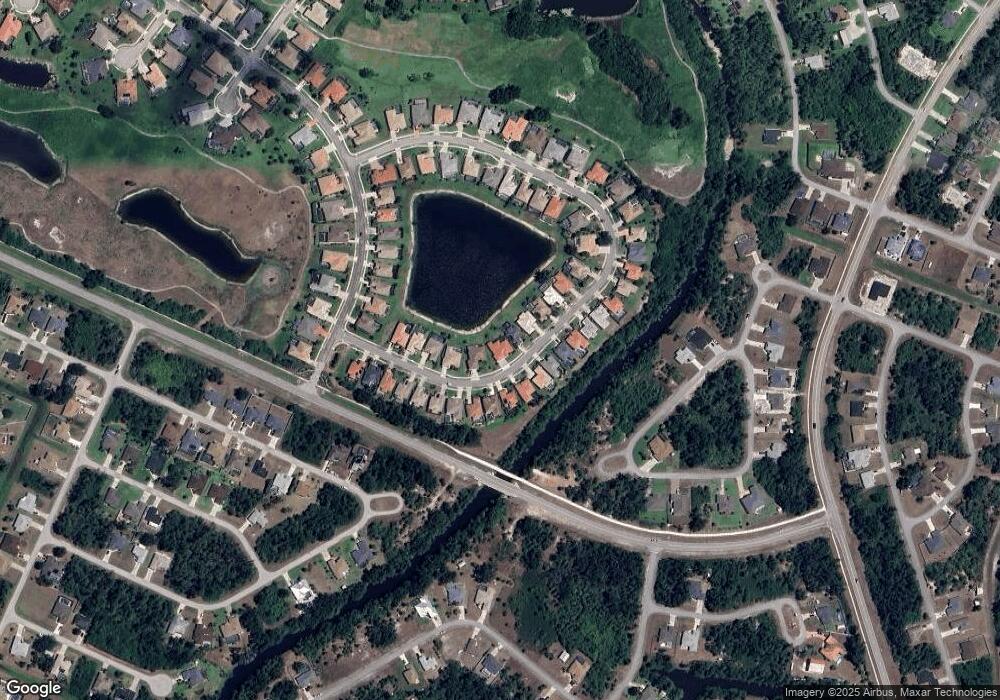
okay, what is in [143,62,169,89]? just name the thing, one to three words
house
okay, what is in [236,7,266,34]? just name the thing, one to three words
house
